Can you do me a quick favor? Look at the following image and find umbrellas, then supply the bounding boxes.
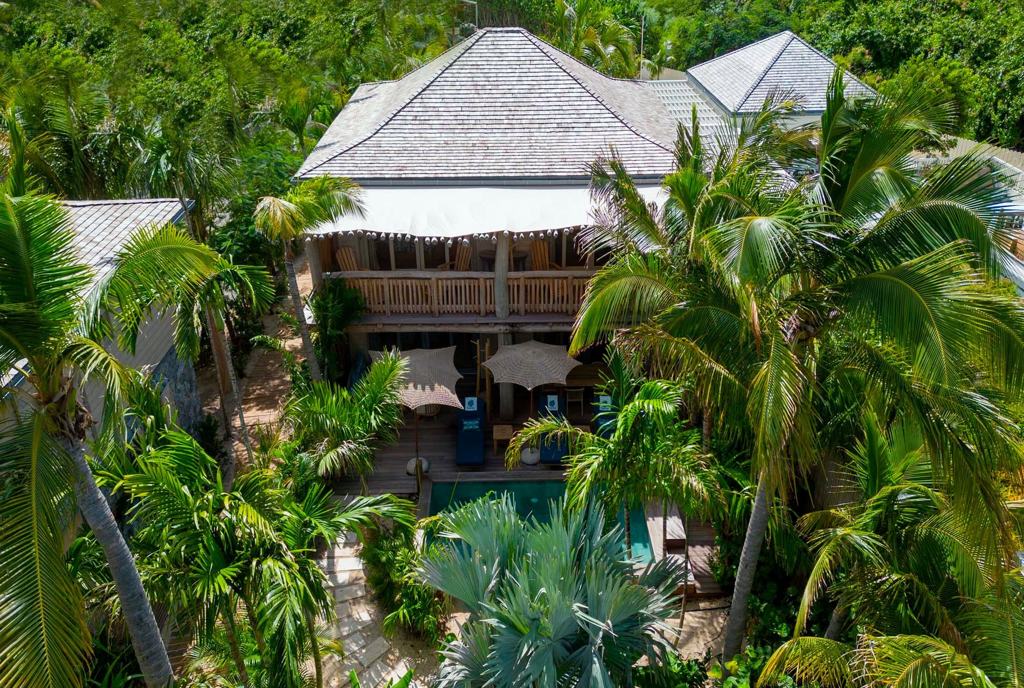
[361,347,465,480]
[482,340,581,470]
